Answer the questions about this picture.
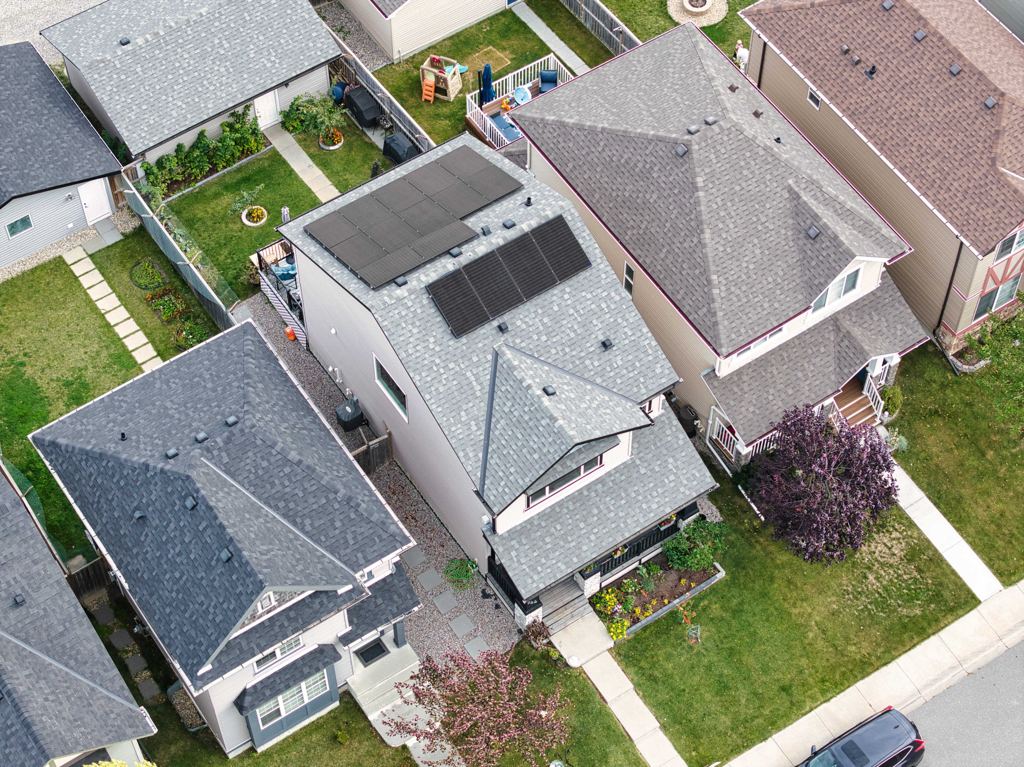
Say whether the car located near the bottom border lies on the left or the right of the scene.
right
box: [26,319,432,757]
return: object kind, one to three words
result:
house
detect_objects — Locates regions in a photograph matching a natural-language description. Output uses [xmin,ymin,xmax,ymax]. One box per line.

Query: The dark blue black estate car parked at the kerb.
[796,702,932,767]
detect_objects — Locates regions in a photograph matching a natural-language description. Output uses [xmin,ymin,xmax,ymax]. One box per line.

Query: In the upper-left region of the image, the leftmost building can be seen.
[0,39,126,268]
